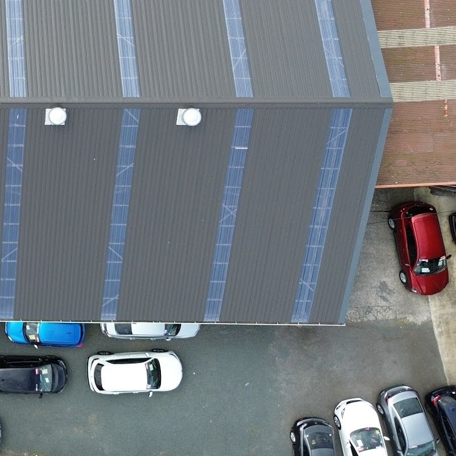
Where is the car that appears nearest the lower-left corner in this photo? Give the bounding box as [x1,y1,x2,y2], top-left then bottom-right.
[0,353,66,400]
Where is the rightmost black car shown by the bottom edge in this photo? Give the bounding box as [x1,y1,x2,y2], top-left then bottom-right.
[426,382,456,456]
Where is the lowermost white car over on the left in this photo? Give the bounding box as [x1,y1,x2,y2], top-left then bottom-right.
[86,348,181,398]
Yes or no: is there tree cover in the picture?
No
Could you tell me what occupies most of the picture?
buildings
